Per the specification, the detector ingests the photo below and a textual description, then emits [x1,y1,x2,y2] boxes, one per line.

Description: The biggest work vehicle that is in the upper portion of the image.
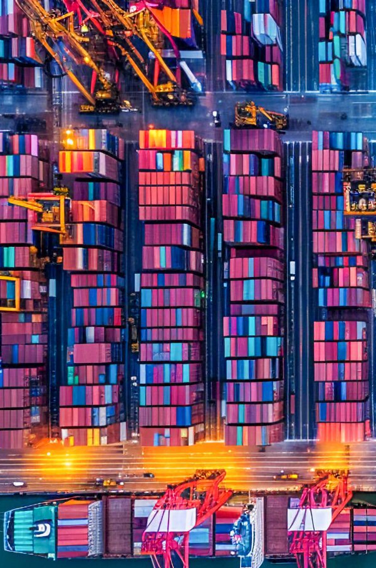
[234,102,289,128]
